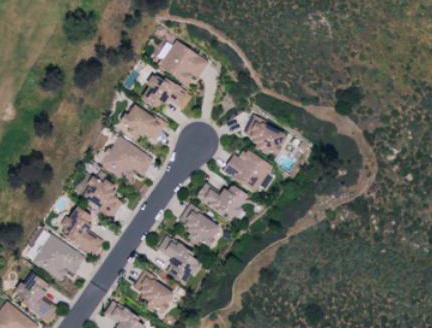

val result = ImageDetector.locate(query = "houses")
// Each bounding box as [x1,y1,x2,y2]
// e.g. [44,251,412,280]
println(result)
[159,40,208,84]
[12,272,56,321]
[242,114,287,158]
[60,208,102,254]
[197,184,250,222]
[120,104,167,139]
[105,302,144,328]
[82,176,122,216]
[0,301,38,328]
[100,137,152,184]
[179,204,220,247]
[158,236,202,284]
[142,74,191,109]
[224,150,272,192]
[134,271,174,315]
[32,234,84,281]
